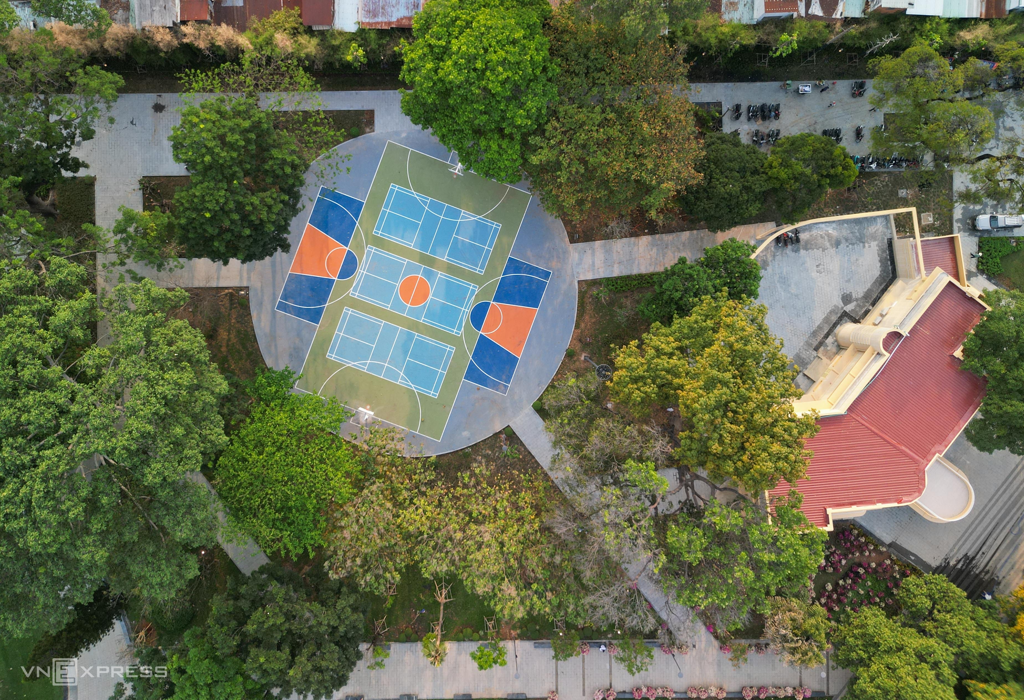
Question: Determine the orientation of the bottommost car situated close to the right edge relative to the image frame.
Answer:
horizontally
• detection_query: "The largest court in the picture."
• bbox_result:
[248,127,579,459]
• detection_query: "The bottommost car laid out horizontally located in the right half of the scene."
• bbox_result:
[970,211,1023,233]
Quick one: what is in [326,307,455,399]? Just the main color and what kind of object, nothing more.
blue sports court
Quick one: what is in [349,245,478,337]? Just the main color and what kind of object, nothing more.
blue sports court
